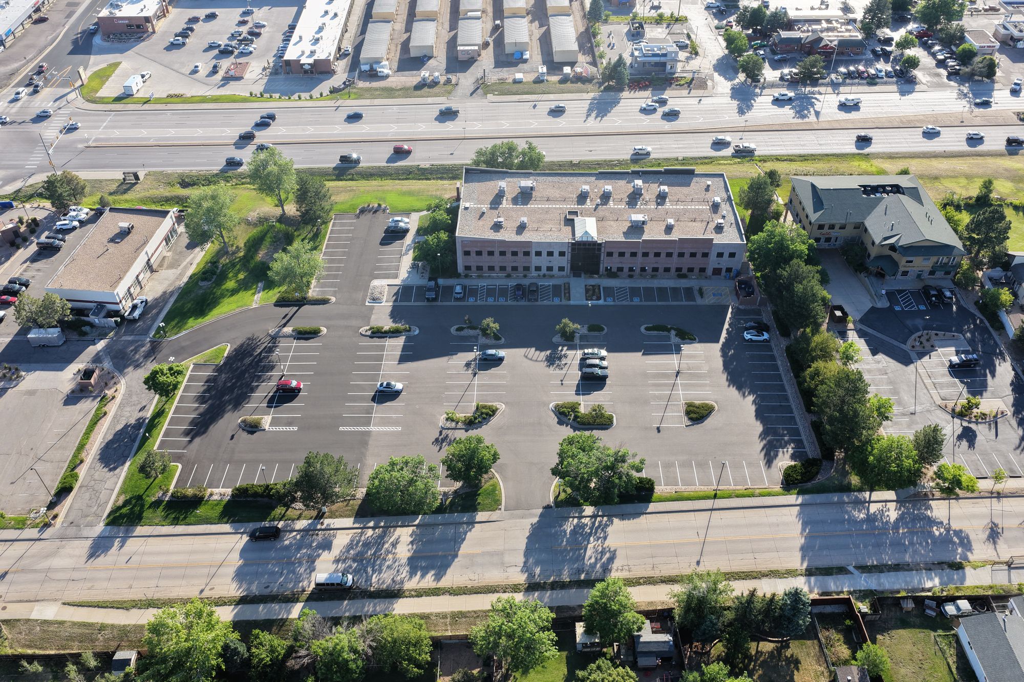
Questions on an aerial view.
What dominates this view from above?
paved ground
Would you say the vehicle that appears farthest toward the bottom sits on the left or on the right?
right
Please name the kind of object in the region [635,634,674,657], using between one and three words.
shed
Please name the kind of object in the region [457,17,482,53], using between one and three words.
building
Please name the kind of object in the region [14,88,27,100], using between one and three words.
vehicle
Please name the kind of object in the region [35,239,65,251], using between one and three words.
vehicle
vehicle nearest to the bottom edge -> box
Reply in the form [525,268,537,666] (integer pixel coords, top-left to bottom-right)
[937,599,993,619]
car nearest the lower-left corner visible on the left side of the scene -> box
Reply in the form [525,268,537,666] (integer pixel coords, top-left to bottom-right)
[249,526,281,542]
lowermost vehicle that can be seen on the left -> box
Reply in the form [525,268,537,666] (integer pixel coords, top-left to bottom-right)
[315,571,353,590]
